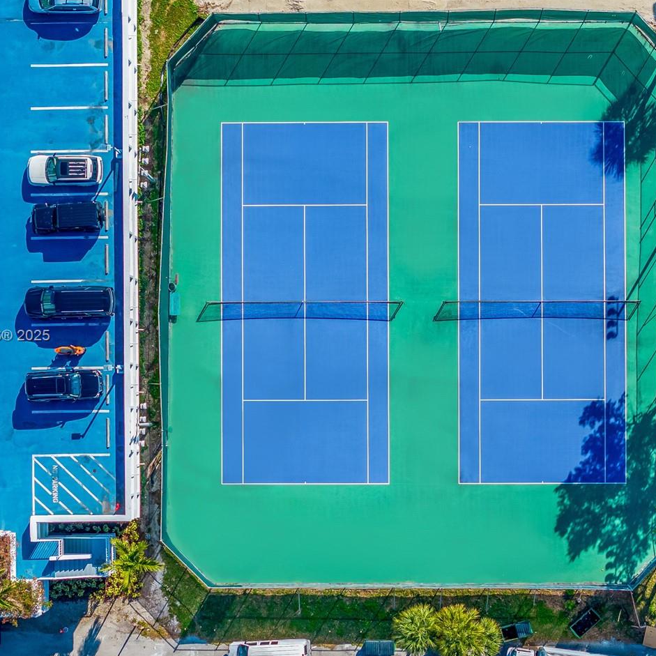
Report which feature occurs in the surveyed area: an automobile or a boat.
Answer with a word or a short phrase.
automobile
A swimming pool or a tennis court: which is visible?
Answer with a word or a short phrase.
tennis court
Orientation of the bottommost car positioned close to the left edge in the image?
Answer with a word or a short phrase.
from left to right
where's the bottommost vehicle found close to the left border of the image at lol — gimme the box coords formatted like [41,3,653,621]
[25,366,104,404]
